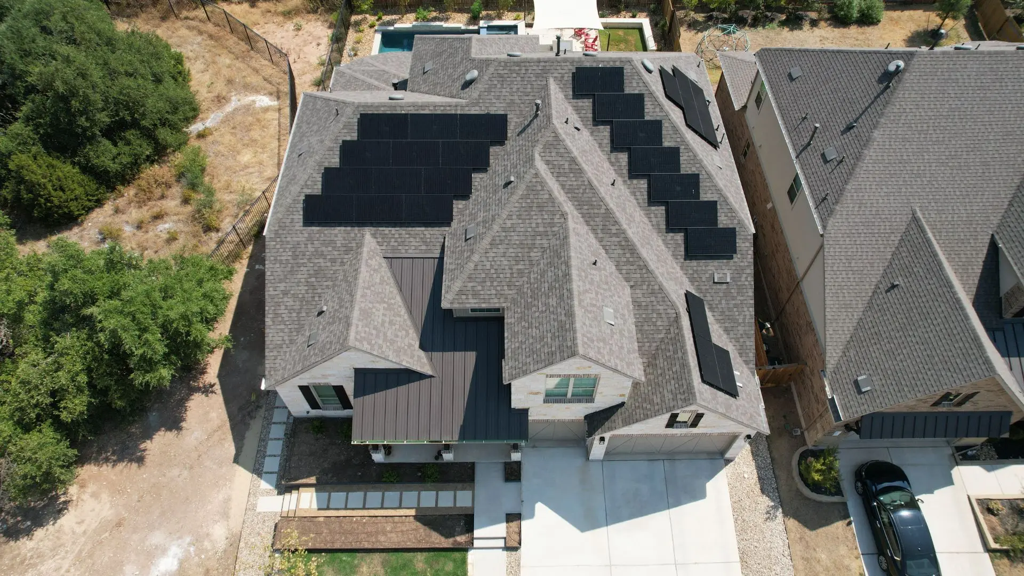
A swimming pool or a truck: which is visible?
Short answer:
swimming pool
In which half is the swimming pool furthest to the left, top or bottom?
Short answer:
top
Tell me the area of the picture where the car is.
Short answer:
bottom right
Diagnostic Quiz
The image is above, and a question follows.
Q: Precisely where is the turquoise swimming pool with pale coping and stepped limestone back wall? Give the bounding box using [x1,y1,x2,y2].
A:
[370,19,480,55]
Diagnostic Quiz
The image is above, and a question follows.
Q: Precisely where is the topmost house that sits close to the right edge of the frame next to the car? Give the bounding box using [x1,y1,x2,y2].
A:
[715,28,1024,448]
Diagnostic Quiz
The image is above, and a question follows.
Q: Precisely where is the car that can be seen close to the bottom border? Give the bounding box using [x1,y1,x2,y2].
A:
[856,462,949,576]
